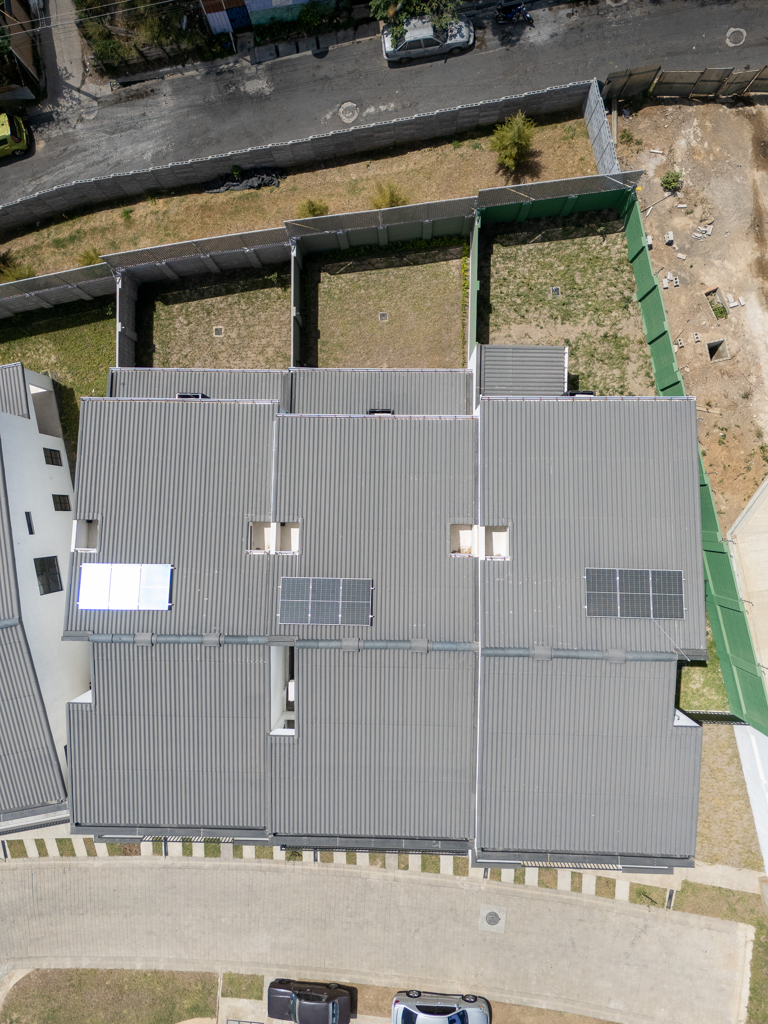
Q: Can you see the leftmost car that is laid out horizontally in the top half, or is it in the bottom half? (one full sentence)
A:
You can find the leftmost car that is laid out horizontally in the bottom half.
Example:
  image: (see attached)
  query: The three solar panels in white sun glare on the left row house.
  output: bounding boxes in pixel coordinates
[75,563,176,611]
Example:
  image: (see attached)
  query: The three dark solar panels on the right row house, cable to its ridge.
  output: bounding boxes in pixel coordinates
[580,567,690,620]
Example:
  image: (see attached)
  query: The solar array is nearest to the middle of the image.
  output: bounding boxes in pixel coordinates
[275,577,376,626]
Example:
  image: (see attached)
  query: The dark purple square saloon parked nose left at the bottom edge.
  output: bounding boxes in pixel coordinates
[263,983,349,1024]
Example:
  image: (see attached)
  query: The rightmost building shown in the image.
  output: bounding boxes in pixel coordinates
[468,343,712,866]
